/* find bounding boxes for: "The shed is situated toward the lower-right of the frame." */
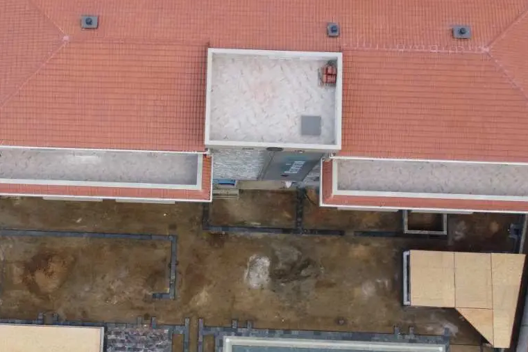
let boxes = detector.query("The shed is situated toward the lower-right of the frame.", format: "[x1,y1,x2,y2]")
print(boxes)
[396,251,526,349]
